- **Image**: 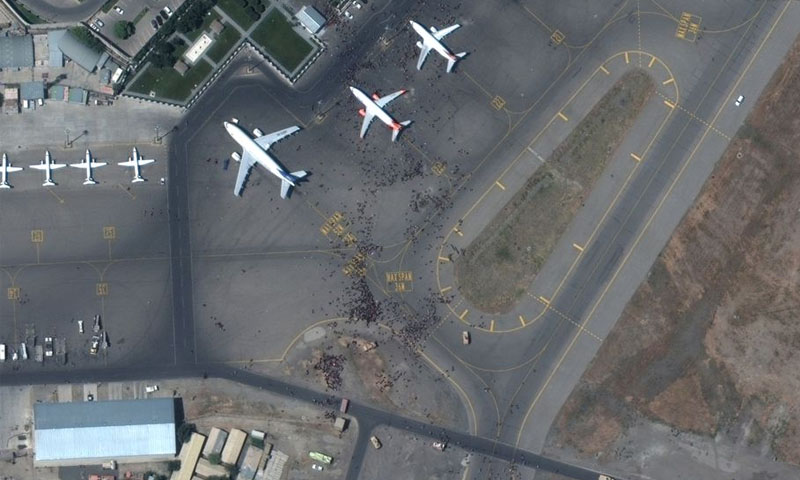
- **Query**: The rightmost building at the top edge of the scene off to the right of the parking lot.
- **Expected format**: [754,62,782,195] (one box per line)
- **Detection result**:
[299,5,327,35]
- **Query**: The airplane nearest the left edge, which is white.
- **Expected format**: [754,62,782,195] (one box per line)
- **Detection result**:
[0,153,23,185]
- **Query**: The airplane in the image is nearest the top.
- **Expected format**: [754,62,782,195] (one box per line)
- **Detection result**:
[409,22,466,69]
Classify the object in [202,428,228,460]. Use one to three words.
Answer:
house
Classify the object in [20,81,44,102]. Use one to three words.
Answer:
building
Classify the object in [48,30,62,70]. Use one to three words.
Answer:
shed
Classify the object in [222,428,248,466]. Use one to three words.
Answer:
house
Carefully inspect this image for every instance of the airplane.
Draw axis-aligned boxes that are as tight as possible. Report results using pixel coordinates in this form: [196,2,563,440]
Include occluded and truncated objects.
[409,22,466,69]
[30,152,66,183]
[70,150,107,182]
[117,149,155,180]
[223,124,308,197]
[350,88,410,138]
[0,153,23,185]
